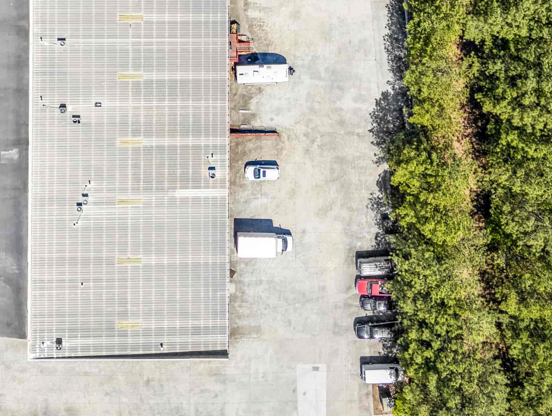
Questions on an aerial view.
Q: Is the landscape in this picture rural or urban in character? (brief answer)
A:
urban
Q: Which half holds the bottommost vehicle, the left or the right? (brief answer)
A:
right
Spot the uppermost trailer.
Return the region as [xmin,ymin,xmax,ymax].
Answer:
[230,64,296,87]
